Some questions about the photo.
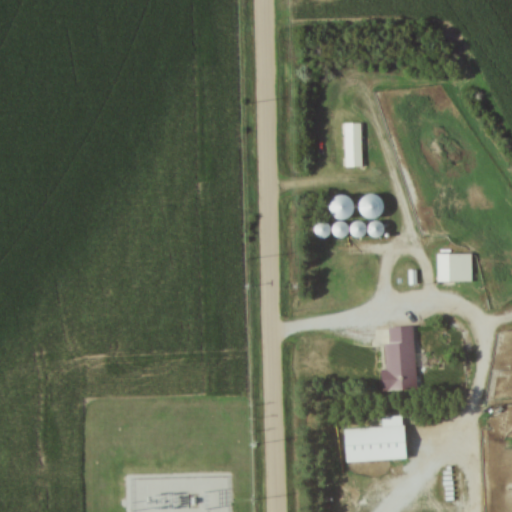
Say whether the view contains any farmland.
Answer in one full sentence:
Yes, farmland can be seen from above here.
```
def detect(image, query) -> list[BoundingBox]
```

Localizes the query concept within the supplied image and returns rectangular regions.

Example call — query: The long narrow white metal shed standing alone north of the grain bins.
[343,122,363,167]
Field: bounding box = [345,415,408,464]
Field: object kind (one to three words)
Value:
barn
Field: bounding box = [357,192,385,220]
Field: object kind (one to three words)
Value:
silo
